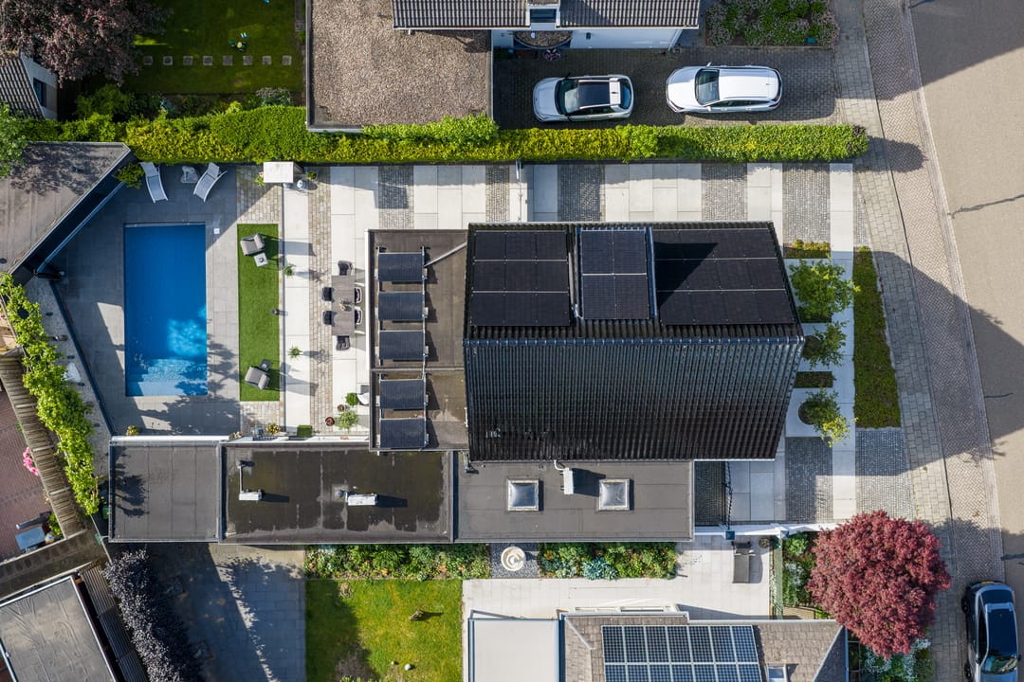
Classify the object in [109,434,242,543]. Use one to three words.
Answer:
building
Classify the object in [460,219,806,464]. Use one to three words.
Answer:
house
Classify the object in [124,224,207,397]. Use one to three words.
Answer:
swimming pool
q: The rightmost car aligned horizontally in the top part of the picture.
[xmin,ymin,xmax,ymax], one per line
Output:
[666,59,781,116]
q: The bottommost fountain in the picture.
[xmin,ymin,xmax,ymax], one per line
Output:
[501,547,525,571]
